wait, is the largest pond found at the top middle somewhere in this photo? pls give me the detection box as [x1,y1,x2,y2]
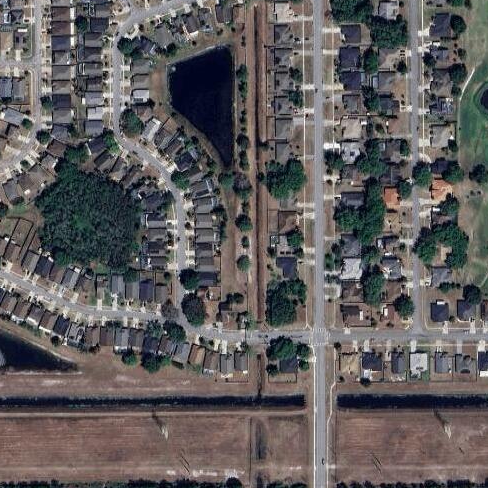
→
[166,46,234,164]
